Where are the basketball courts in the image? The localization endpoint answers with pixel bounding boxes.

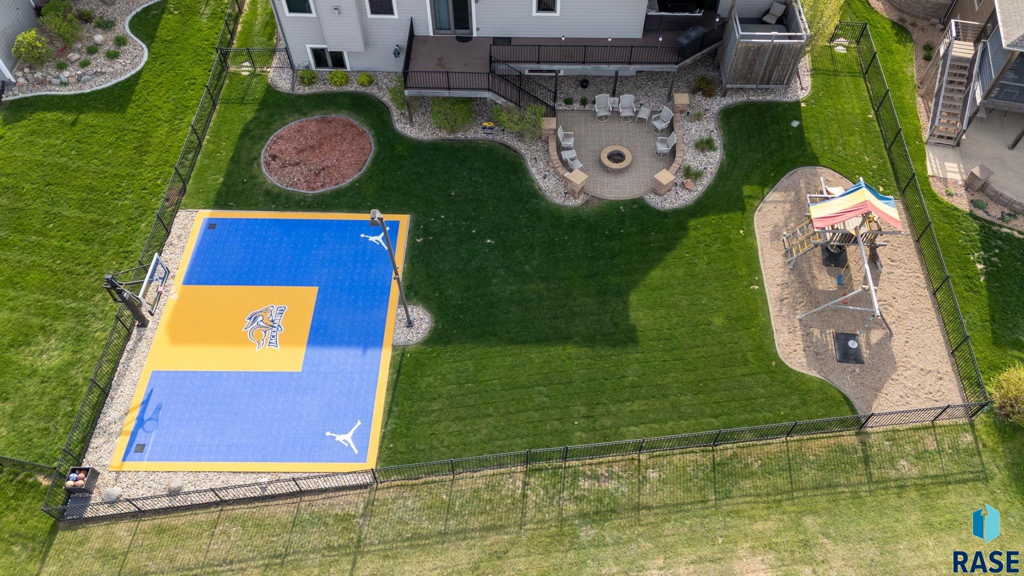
[107,211,410,473]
